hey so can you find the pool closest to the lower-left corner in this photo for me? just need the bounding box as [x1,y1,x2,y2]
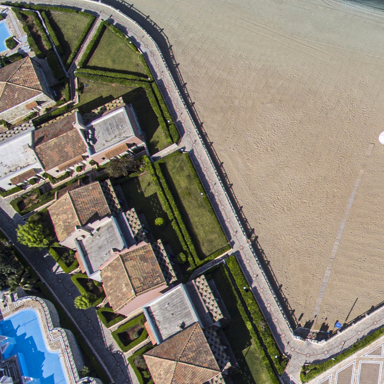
[0,307,70,384]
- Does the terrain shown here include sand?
Yes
